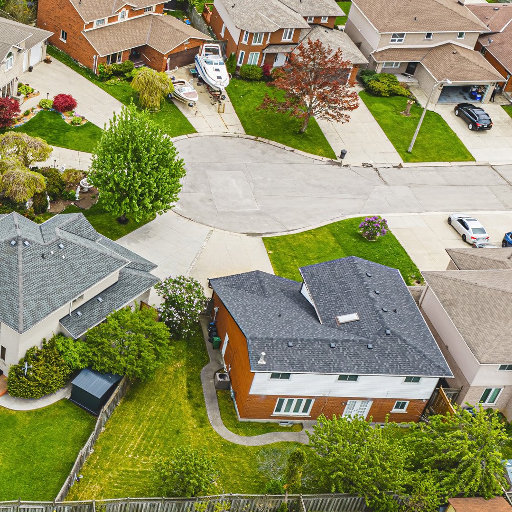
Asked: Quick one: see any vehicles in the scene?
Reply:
Yes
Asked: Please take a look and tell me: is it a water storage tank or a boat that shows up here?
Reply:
boat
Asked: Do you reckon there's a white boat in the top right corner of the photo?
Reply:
No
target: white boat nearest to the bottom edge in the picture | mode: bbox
[169,78,202,110]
